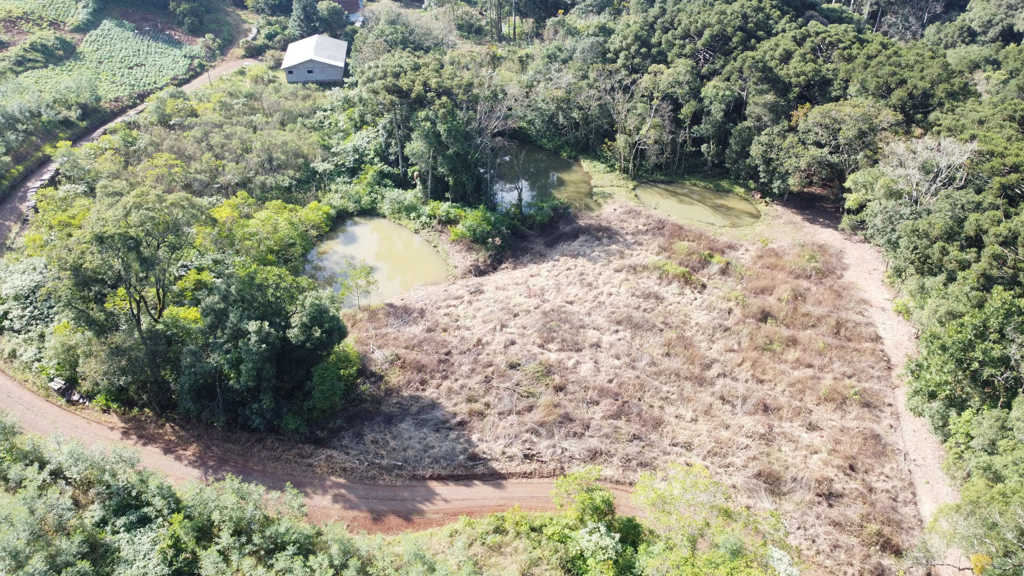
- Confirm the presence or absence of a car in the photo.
No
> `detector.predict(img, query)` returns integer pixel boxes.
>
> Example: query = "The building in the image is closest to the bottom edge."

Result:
[278,34,345,85]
